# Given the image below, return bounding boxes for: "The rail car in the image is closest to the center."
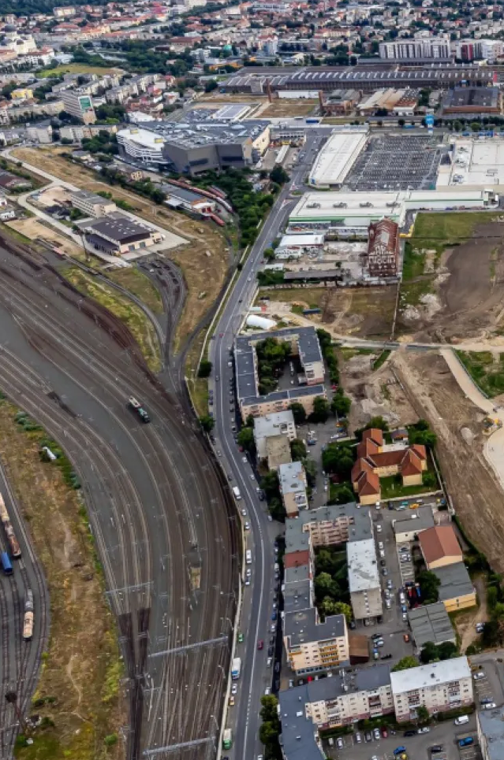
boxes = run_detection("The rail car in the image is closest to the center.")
[131,398,146,415]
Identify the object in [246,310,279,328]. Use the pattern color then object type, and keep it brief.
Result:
white tent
